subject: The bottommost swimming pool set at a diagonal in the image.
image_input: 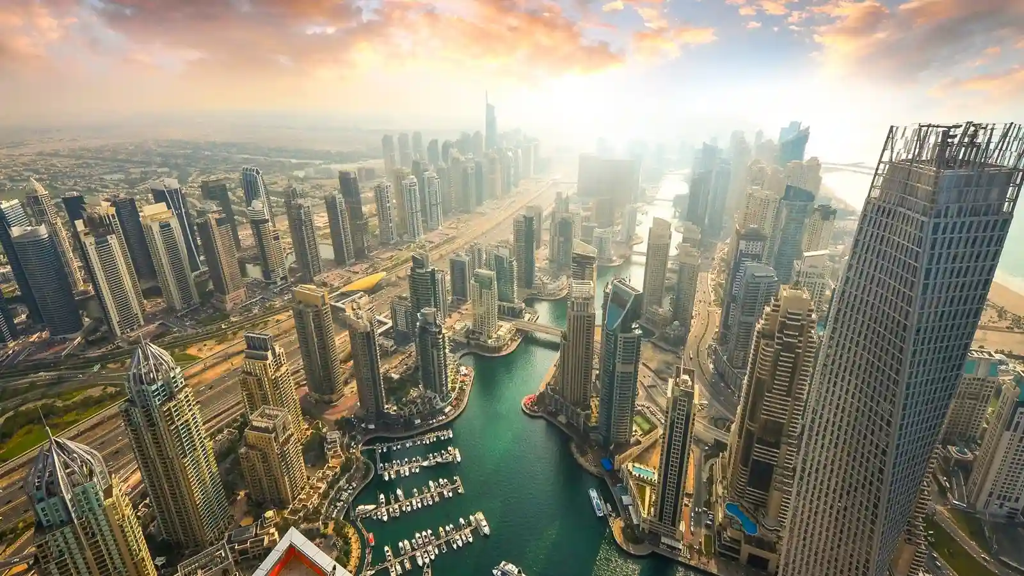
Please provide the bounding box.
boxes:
[724,506,760,536]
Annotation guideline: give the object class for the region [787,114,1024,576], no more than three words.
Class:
building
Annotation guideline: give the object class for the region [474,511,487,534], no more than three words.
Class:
boat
